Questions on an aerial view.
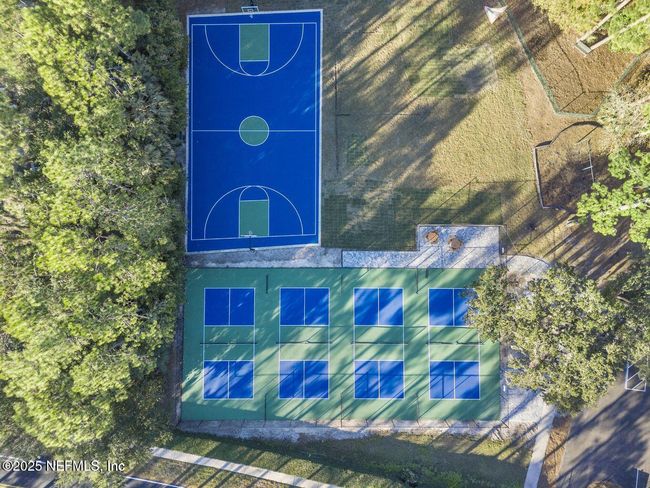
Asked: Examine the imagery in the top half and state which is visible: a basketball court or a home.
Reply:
basketball court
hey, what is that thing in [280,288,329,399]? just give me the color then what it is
blue sports court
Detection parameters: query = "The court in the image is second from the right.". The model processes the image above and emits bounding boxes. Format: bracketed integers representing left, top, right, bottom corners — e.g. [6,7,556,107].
[354,288,404,399]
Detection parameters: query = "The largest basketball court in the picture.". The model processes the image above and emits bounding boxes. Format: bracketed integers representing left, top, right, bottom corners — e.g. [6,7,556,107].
[185,9,323,252]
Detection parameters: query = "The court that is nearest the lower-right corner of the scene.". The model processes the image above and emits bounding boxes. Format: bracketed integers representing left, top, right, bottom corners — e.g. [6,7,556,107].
[429,288,480,399]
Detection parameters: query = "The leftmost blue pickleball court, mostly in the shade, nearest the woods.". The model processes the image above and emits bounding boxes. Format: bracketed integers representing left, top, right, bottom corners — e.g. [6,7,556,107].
[204,288,255,399]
